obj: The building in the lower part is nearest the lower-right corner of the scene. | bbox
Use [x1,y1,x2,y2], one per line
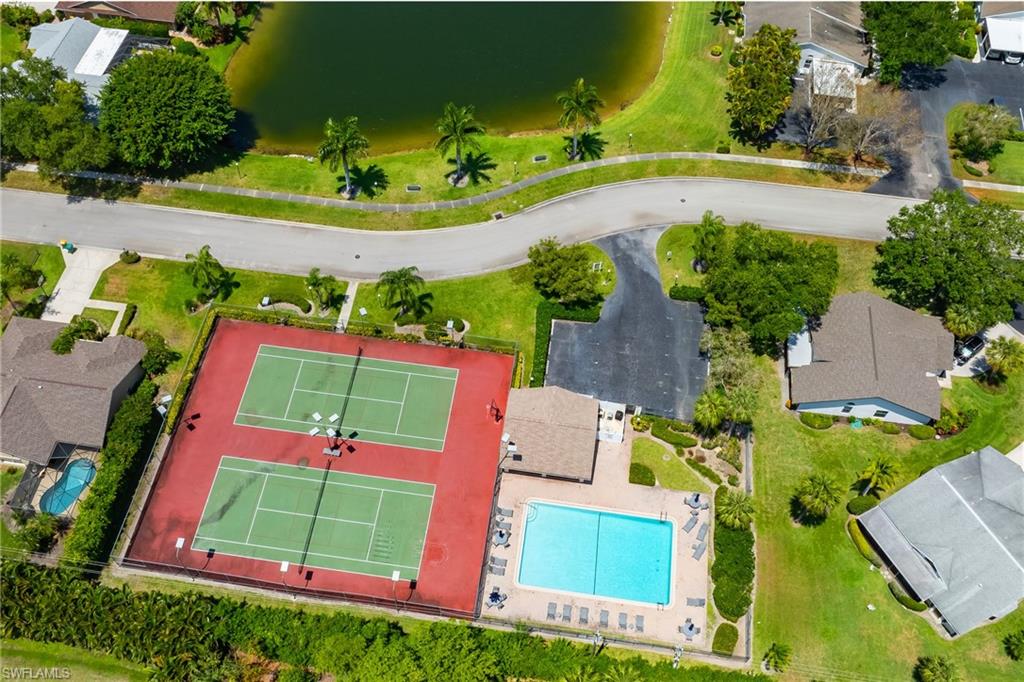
[854,446,1024,637]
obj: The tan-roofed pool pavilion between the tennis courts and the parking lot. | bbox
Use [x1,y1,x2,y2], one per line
[501,386,598,488]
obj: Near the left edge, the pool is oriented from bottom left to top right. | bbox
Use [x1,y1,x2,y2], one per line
[37,456,98,518]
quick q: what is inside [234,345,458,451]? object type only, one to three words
tennis court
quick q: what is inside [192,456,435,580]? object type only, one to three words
tennis court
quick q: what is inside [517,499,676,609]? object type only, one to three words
swimming pool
